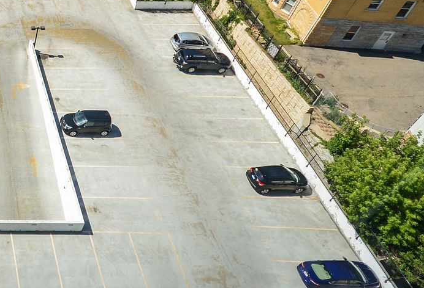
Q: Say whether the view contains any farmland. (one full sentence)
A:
No, the picture contains no farmland.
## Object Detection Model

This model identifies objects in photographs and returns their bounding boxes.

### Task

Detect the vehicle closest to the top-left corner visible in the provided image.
[60,109,114,137]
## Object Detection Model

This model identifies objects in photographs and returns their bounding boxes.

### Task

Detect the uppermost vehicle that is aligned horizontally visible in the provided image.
[165,28,219,50]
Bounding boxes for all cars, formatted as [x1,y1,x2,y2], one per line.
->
[292,257,387,288]
[60,109,114,137]
[171,45,233,70]
[165,28,219,50]
[244,164,310,194]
